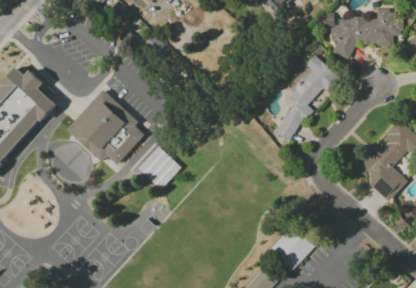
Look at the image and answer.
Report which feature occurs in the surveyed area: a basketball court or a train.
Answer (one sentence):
There is a basketball court in the scene.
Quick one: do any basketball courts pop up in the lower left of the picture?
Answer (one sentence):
Yes, in the lower left of the picture there is a basketball court.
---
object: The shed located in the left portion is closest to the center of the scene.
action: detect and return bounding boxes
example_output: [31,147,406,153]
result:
[139,148,180,186]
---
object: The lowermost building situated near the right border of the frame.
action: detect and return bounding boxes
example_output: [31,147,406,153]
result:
[364,123,416,202]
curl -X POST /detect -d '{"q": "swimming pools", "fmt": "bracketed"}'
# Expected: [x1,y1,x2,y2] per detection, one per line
[406,180,416,198]
[349,0,372,11]
[267,90,283,116]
